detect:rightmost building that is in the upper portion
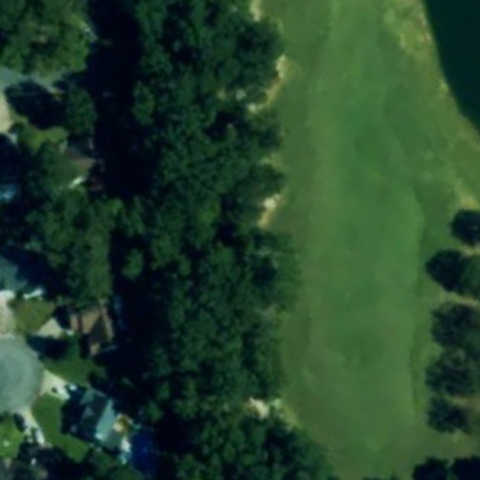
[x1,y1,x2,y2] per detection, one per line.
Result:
[61,139,101,185]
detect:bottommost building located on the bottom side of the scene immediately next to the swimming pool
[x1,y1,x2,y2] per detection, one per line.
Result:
[61,378,130,450]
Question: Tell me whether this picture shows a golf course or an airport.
golf course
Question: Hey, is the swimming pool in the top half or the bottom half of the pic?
bottom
